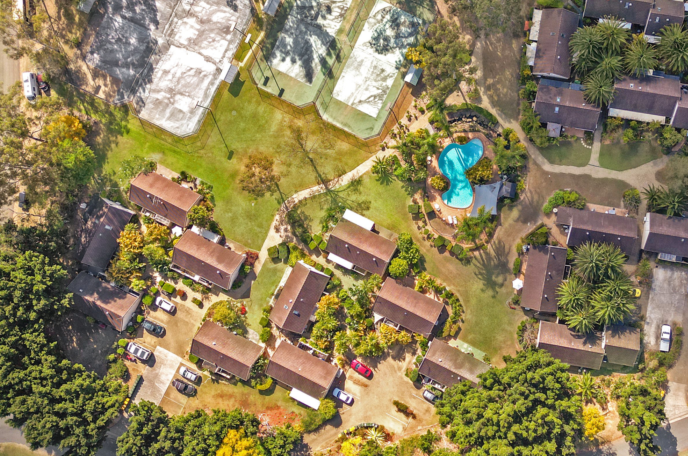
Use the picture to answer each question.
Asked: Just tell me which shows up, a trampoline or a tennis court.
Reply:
tennis court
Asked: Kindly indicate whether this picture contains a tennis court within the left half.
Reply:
Yes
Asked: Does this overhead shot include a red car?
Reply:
Yes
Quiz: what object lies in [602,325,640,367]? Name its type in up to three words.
house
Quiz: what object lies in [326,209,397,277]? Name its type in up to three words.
house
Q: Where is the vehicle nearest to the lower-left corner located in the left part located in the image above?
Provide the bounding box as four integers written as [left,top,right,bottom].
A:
[128,343,153,360]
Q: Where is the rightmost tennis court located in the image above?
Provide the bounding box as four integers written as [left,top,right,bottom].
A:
[317,0,438,139]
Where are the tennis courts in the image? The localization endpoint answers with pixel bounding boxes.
[83,0,181,102]
[317,0,438,139]
[135,0,254,137]
[247,0,367,107]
